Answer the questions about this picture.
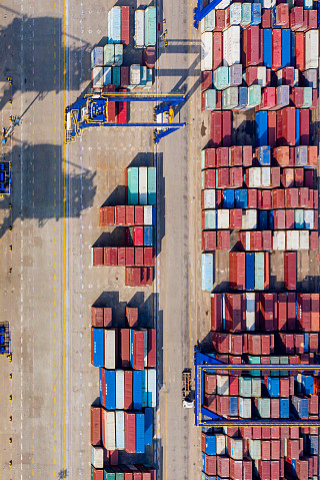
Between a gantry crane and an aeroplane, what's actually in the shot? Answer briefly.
gantry crane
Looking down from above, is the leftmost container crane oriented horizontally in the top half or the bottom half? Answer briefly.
top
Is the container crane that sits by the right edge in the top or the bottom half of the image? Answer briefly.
bottom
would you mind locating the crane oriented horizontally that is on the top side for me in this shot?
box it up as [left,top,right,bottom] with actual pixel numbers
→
[65,91,188,145]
